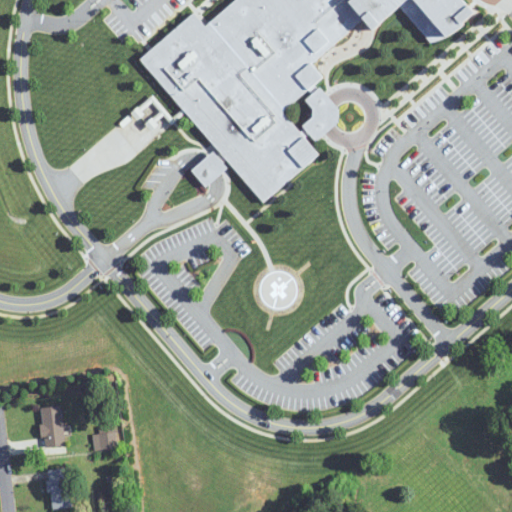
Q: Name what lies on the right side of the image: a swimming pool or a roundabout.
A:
roundabout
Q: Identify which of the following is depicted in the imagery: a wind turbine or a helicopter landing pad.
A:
helicopter landing pad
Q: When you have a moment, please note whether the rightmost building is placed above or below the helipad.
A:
above it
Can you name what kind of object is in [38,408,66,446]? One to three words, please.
house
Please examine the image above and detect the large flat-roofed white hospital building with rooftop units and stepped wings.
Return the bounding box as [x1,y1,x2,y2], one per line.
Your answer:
[141,0,472,204]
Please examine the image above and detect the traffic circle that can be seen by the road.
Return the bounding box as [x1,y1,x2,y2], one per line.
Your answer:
[327,92,376,146]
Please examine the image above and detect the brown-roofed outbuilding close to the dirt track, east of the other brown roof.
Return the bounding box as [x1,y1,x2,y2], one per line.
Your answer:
[92,431,120,452]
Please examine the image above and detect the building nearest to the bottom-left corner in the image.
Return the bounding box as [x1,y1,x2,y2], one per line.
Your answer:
[47,470,67,510]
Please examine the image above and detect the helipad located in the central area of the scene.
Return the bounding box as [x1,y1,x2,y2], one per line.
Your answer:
[253,263,311,329]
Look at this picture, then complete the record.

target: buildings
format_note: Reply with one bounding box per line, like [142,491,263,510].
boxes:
[47,470,67,510]
[92,431,120,452]
[38,408,66,446]
[141,0,472,204]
